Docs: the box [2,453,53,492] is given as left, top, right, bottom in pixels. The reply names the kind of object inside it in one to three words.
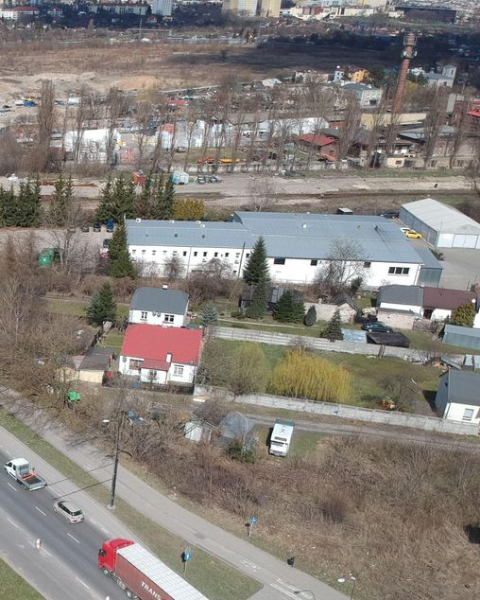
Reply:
truck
